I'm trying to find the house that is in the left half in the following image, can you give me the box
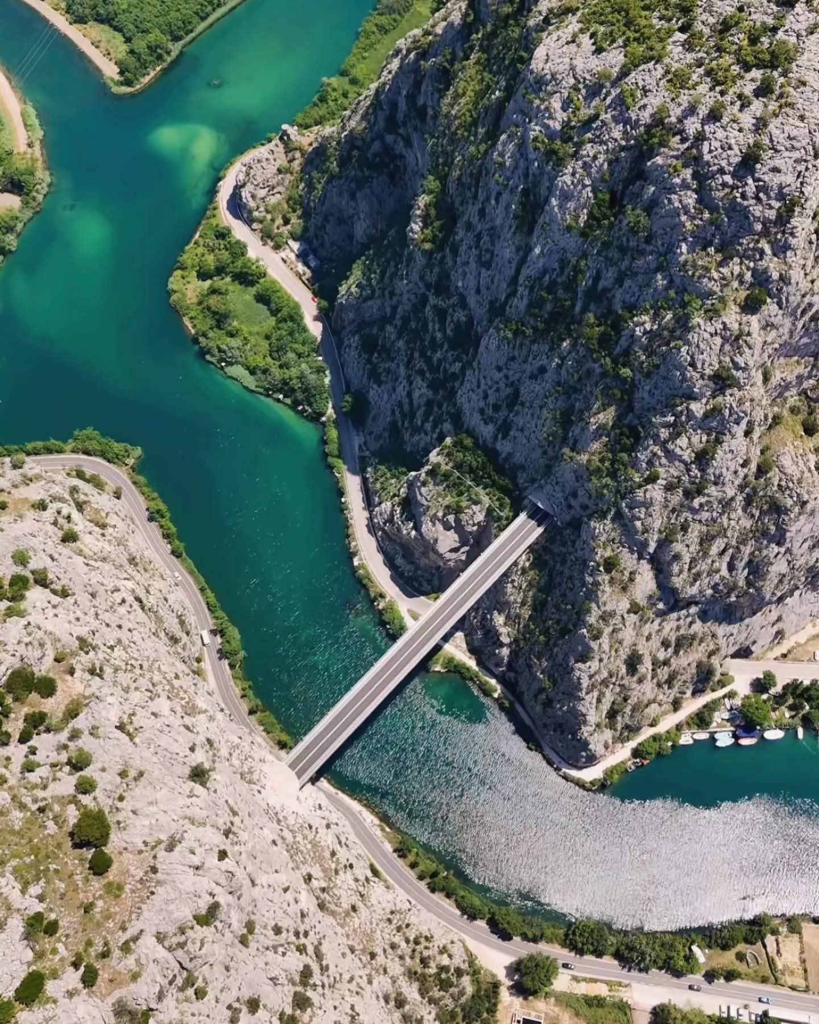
[291,238,322,268]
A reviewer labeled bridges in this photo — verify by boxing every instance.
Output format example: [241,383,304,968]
[278,507,545,786]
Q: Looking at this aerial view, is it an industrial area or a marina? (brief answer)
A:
marina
